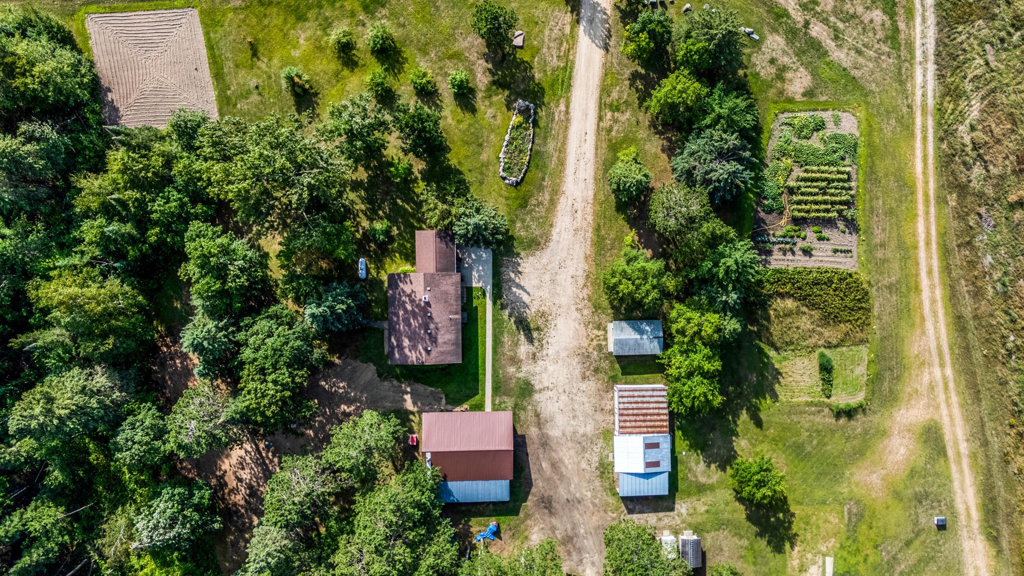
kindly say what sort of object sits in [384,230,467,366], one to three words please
house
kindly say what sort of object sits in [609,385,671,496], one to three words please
shed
